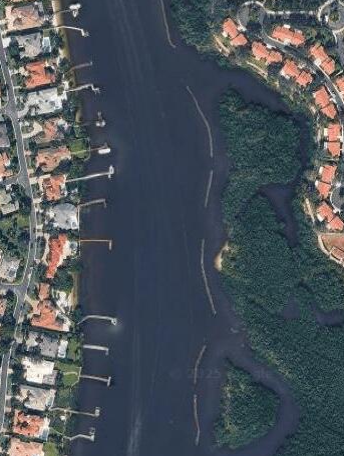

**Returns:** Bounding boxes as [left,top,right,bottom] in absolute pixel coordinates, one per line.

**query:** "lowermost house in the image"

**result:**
[9,438,40,456]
